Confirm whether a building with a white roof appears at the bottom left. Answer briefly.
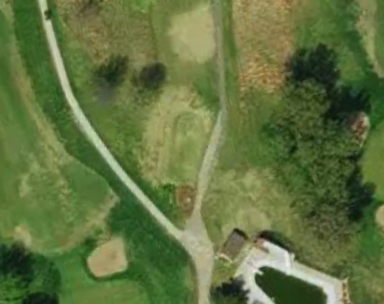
No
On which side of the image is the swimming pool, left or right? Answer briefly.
right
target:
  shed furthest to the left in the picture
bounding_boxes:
[222,230,249,260]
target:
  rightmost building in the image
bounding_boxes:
[258,241,293,268]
